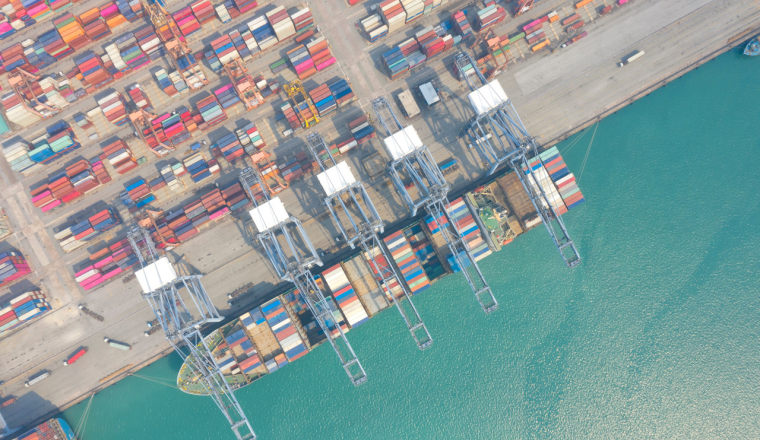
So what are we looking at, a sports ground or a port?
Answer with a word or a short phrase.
port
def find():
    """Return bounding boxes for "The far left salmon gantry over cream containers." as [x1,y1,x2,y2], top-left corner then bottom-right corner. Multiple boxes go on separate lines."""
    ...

[7,70,60,122]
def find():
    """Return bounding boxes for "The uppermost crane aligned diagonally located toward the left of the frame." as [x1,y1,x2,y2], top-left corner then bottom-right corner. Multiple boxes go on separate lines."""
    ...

[142,0,185,45]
